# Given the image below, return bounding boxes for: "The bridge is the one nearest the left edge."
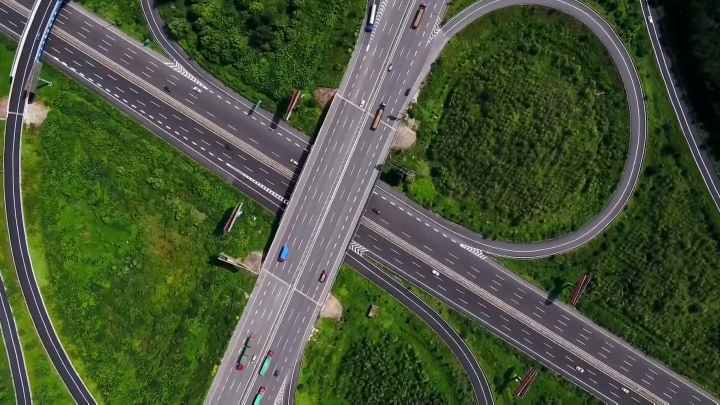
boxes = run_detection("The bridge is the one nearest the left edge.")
[5,0,60,120]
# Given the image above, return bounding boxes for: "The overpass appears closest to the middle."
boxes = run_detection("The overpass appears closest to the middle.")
[262,92,397,307]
